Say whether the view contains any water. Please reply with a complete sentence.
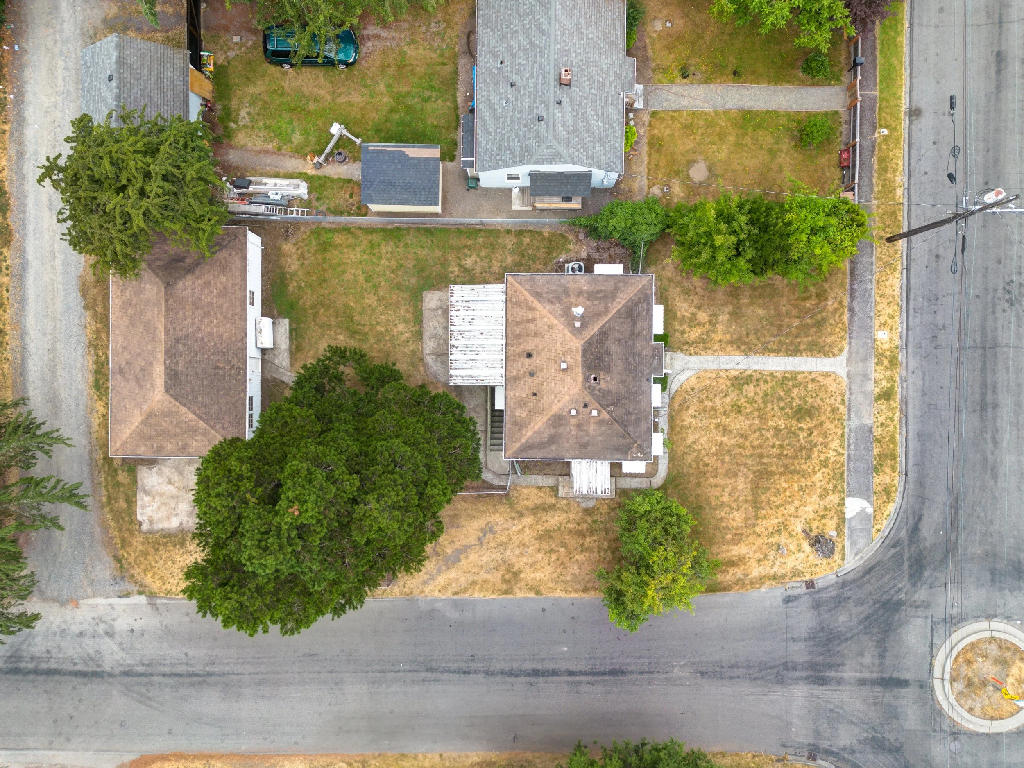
No, water can't be seen anywhere here.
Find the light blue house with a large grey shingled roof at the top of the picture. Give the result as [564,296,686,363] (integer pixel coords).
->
[460,0,637,197]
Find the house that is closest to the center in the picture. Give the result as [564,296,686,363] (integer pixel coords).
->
[448,264,672,495]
